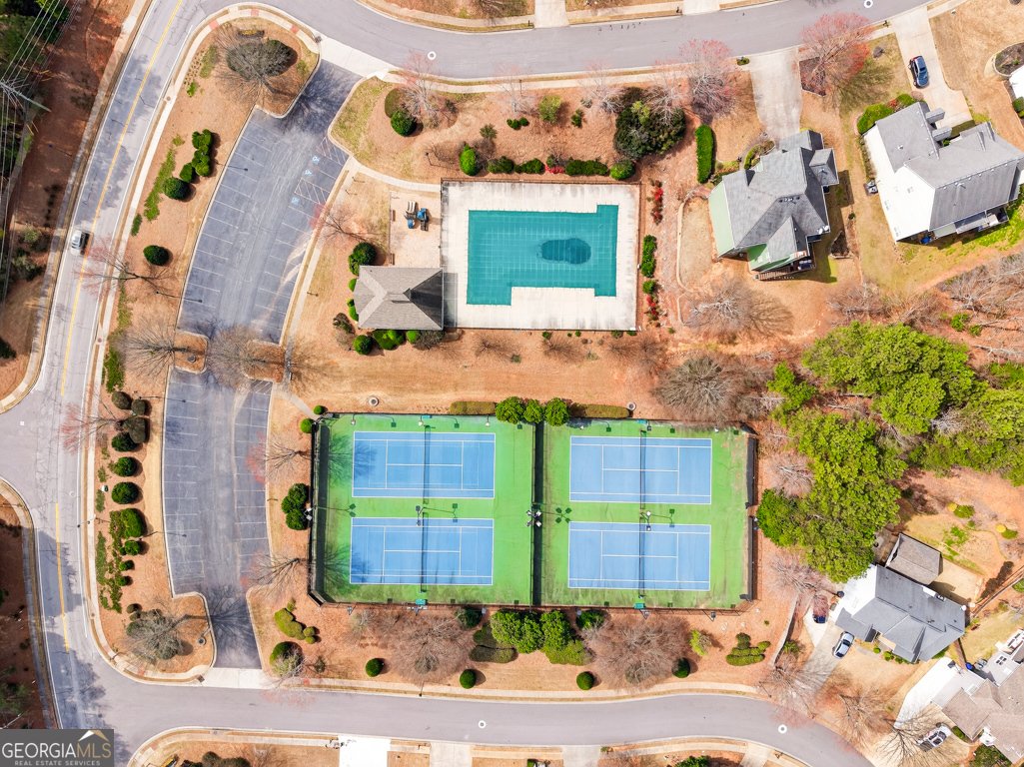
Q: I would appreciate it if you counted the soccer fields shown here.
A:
zero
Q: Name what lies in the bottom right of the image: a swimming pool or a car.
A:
car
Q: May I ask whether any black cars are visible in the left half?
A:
No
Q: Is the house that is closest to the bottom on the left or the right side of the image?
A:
right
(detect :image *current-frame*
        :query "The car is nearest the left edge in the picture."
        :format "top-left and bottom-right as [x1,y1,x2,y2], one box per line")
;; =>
[67,226,85,255]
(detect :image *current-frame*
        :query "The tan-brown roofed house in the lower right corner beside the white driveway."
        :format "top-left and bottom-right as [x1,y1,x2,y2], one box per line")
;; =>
[933,628,1024,766]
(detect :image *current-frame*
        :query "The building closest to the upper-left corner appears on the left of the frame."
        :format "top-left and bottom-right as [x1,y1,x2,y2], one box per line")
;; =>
[354,265,443,330]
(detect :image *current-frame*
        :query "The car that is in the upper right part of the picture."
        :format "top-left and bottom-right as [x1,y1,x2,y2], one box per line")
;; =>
[911,54,930,85]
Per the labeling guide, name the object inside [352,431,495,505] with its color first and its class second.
blue tennis court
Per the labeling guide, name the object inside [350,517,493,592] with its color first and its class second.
blue tennis court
